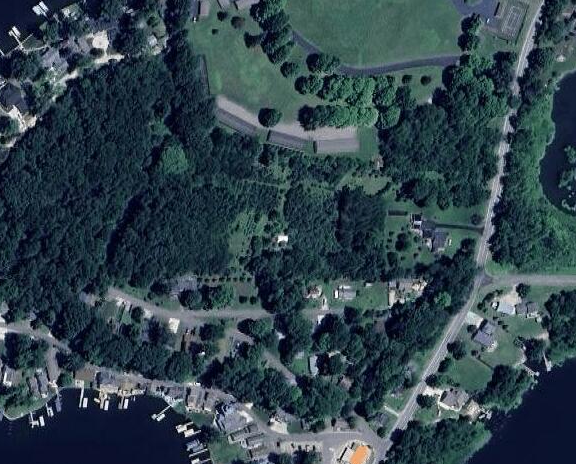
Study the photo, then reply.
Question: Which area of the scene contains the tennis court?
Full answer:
The tennis court is in the top right part of the image.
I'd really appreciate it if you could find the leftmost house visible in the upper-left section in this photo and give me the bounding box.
[2,84,27,113]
